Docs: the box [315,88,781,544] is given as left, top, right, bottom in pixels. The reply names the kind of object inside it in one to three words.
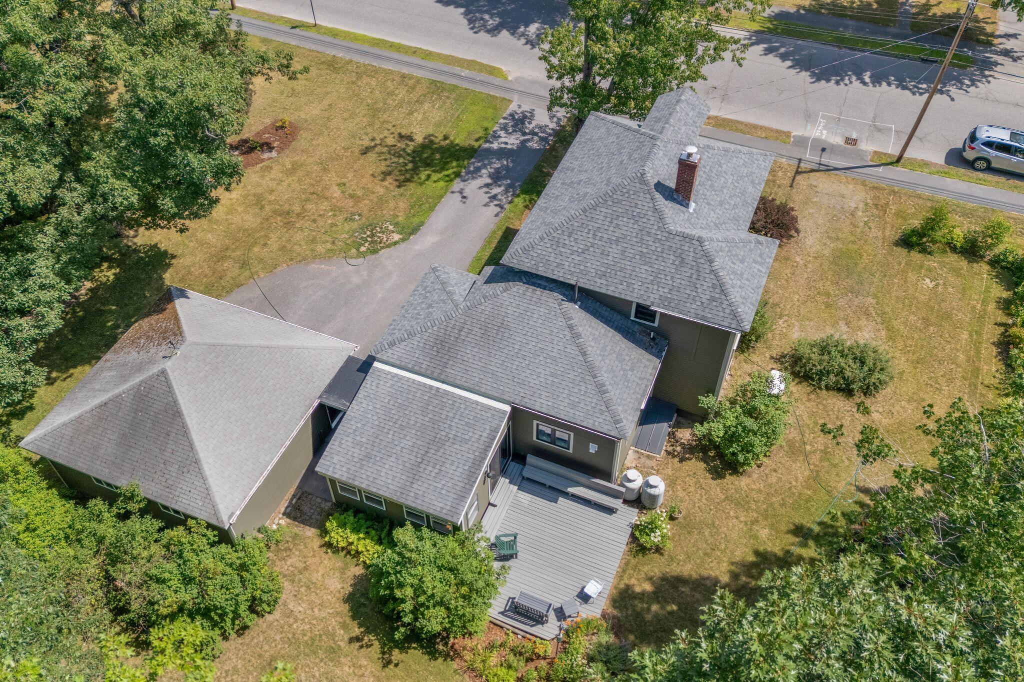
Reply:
house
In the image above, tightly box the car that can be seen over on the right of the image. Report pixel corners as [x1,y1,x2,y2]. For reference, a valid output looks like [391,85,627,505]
[968,117,1024,173]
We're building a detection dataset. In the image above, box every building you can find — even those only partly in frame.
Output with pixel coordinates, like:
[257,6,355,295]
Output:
[315,88,781,544]
[19,285,362,550]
